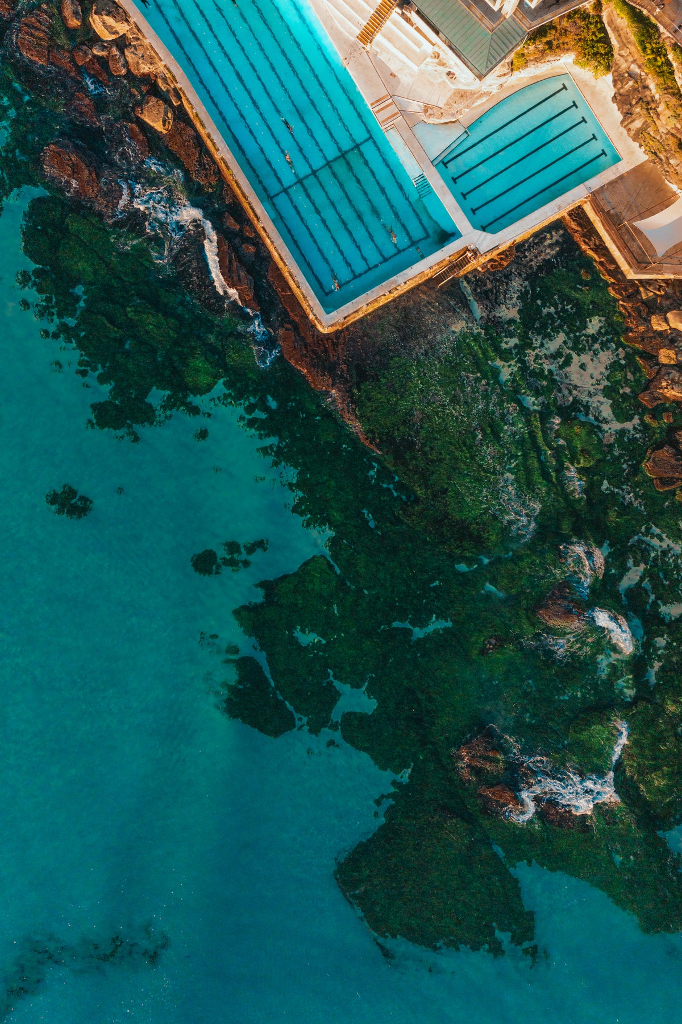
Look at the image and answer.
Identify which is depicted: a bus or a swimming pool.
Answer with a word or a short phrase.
swimming pool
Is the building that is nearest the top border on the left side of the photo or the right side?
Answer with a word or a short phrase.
right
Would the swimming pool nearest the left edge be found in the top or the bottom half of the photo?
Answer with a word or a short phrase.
top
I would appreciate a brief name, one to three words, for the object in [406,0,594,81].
building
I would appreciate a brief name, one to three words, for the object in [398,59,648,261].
swimming pool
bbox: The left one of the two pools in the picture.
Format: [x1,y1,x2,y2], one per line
[115,0,471,334]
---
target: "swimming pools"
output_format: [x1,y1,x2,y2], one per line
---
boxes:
[398,59,648,261]
[115,0,471,334]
